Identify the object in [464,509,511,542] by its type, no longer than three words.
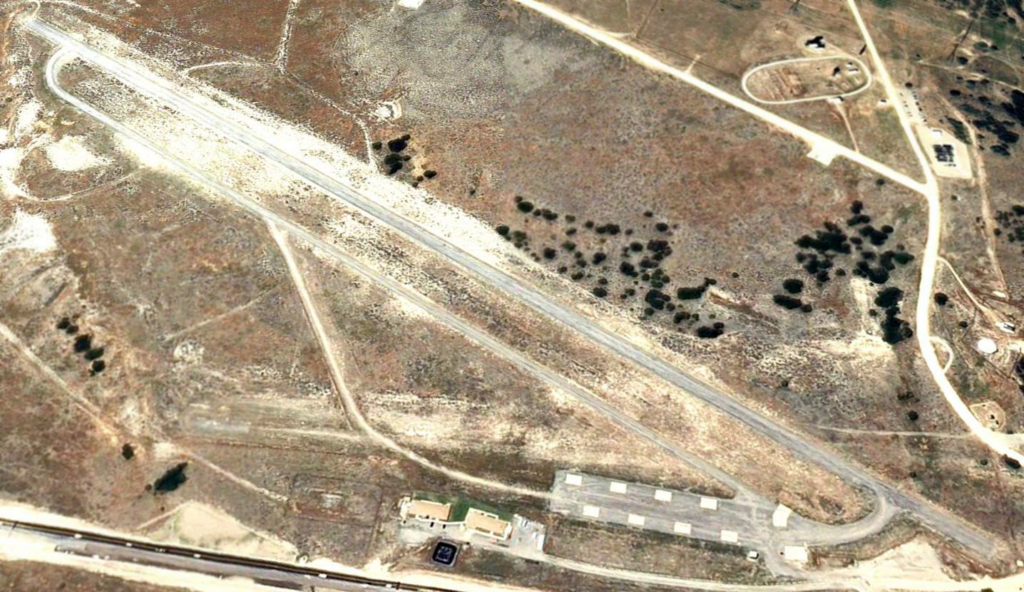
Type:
house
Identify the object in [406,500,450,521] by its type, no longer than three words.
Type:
house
